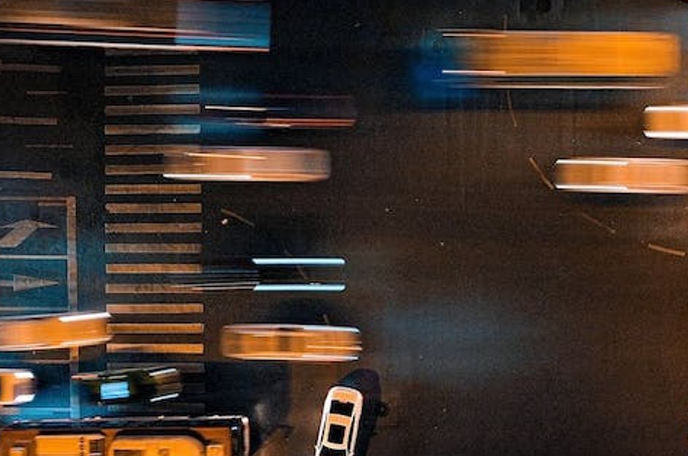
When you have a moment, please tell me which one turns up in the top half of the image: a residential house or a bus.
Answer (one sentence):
You can see a bus in the top half of the image.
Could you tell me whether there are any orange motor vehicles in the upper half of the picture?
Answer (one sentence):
Yes, the scene does show an orange motor vehicle in the upper half of the picture.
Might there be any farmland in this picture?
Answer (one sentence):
No, there's no farmland in this view.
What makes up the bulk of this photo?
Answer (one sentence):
What you mostly see from above here is paved ground.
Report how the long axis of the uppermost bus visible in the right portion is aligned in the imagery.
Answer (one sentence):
The uppermost bus visible in the right portion is oriented from left to right.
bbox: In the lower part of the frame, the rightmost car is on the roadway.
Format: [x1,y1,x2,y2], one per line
[314,385,365,456]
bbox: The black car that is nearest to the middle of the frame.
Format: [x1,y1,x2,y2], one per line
[248,252,348,297]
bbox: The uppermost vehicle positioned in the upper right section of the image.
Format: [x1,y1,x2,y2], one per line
[448,29,679,96]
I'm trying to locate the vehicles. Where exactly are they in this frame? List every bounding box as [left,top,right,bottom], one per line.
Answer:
[314,385,365,456]
[206,142,294,185]
[11,0,280,62]
[2,412,252,456]
[84,363,179,406]
[0,368,36,405]
[248,252,348,297]
[448,29,679,96]
[6,310,96,353]
[243,321,342,366]
[579,152,677,197]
